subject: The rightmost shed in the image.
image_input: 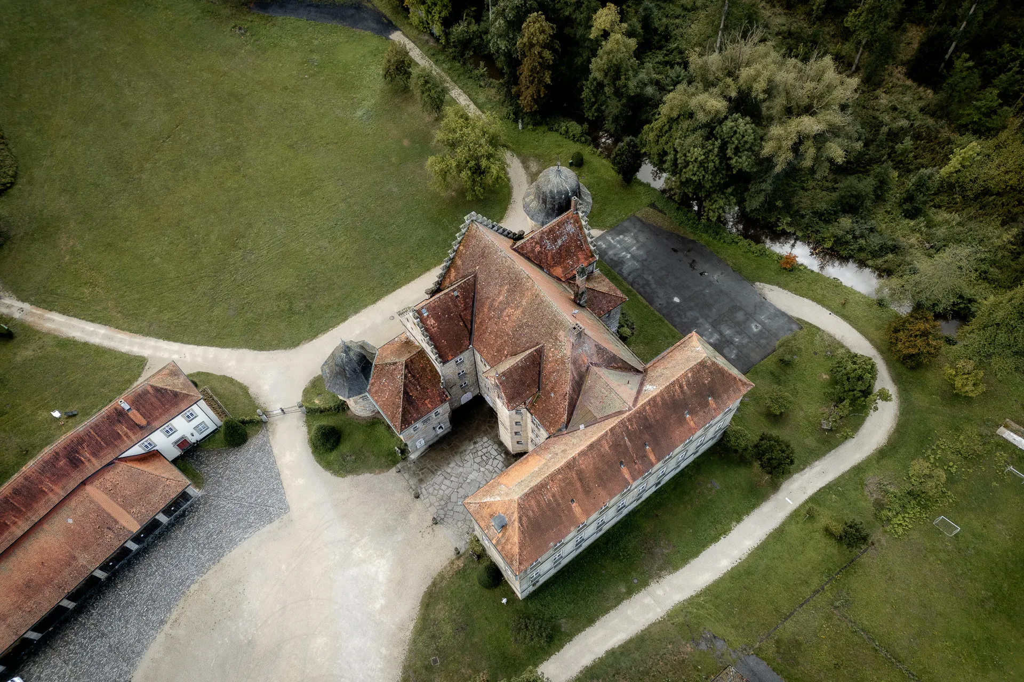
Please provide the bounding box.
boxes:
[995,418,1024,448]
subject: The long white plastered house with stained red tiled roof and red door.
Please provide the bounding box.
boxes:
[0,360,221,557]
